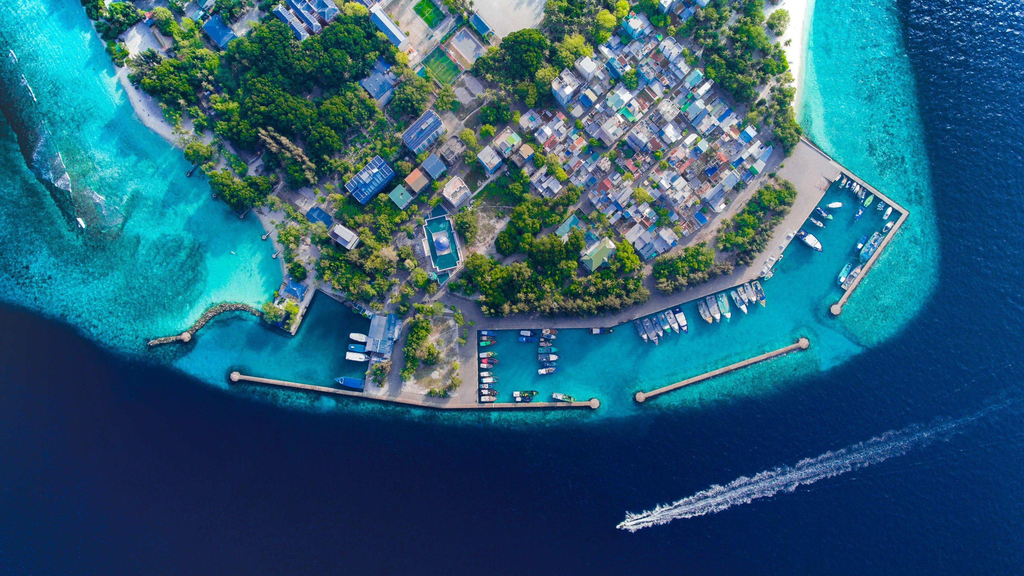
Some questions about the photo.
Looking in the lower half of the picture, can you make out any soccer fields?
No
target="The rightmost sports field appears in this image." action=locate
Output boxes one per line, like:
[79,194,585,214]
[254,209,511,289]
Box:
[473,0,545,39]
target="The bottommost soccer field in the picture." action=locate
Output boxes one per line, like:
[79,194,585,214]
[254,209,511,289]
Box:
[421,43,466,87]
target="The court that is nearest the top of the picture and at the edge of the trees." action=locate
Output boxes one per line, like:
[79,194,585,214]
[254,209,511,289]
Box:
[450,27,487,64]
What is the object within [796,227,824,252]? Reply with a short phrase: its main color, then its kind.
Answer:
white boat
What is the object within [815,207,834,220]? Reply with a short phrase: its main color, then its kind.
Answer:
blue boat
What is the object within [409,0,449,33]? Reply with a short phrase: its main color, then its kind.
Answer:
green soccer field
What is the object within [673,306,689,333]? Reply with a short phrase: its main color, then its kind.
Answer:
white boat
